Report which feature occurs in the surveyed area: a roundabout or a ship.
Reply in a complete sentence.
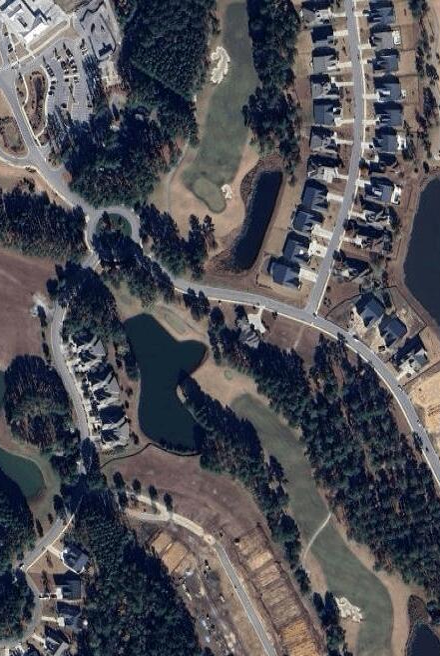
The one in the frame is a roundabout.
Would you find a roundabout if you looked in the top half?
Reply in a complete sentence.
Yes, a roundabout shows up in the top half.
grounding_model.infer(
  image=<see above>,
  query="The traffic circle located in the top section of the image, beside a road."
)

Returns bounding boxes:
[89,205,140,253]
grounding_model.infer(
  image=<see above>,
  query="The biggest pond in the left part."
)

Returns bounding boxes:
[125,313,206,456]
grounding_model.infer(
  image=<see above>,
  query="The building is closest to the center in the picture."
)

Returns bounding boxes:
[234,311,262,348]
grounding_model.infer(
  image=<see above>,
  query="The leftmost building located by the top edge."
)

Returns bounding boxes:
[0,0,67,45]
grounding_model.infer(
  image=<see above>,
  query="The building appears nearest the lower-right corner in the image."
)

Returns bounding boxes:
[399,336,430,368]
